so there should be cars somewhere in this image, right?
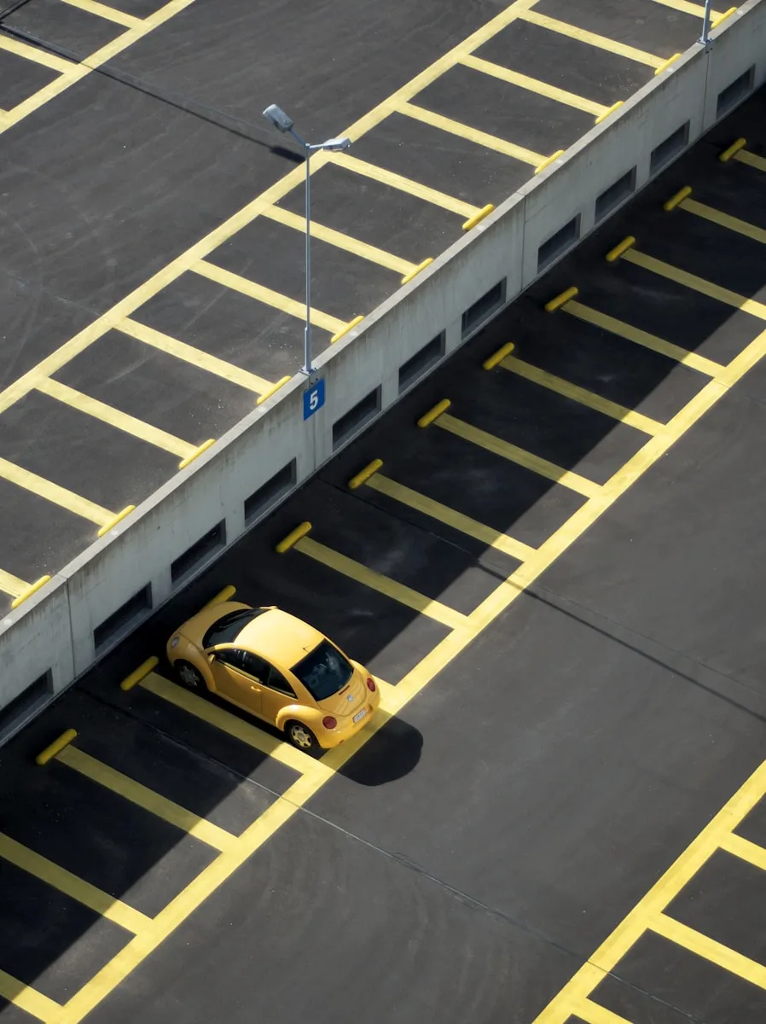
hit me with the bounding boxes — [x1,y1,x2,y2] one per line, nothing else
[165,602,381,752]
